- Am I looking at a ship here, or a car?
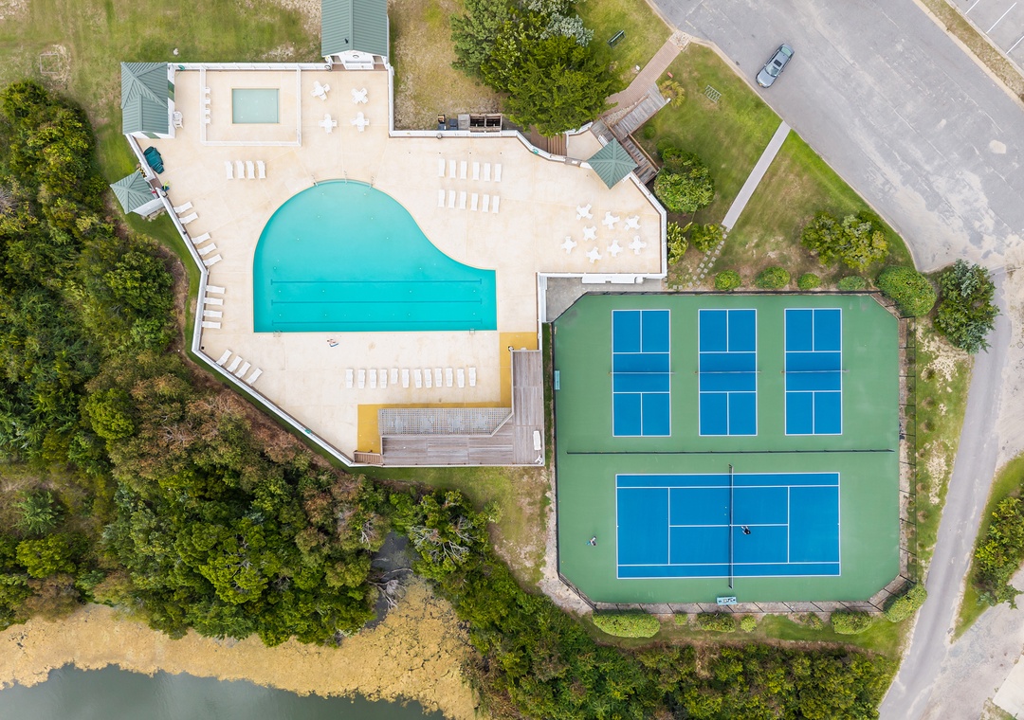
car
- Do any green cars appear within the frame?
No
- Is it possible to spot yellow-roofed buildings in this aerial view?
No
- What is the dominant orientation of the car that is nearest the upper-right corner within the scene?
diagonally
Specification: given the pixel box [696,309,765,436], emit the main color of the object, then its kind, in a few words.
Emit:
blue sports court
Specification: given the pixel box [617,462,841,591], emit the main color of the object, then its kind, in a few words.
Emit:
blue tennis court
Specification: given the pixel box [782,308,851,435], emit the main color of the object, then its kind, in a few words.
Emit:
blue sports court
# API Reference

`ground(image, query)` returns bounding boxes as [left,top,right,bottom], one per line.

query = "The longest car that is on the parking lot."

[758,40,797,85]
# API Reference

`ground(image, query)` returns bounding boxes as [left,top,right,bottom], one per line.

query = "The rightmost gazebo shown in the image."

[588,138,638,190]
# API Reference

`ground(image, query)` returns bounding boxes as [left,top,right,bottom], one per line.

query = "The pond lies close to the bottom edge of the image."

[0,532,464,720]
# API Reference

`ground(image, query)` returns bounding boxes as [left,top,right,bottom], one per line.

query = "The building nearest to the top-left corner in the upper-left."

[120,61,174,138]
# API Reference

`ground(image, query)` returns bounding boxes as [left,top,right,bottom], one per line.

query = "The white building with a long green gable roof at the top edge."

[321,0,389,69]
